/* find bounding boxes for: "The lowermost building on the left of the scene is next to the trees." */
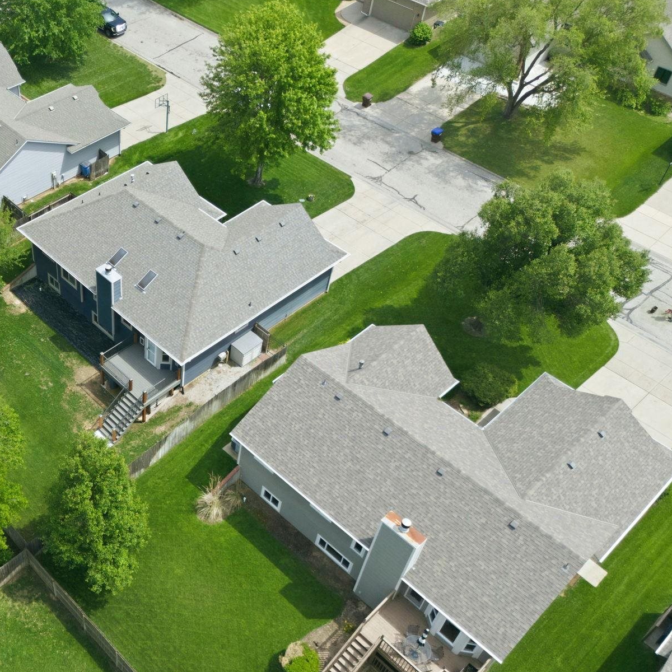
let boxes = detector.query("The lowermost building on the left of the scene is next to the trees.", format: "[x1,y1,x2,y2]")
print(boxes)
[15,161,352,395]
